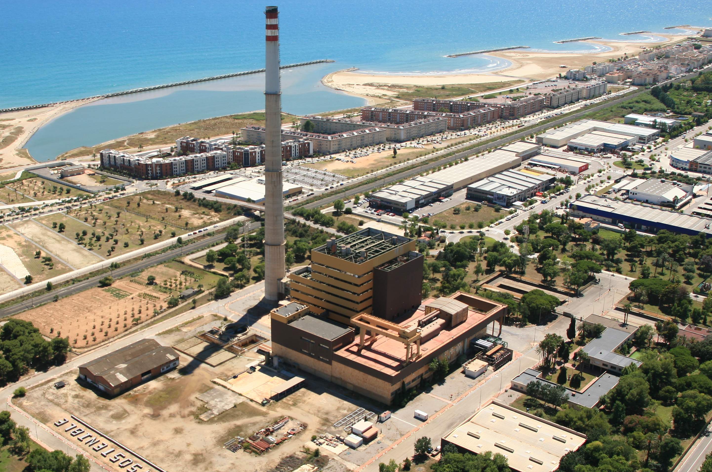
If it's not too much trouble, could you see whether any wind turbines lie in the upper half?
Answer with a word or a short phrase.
No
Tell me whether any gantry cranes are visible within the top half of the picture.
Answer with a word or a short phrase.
No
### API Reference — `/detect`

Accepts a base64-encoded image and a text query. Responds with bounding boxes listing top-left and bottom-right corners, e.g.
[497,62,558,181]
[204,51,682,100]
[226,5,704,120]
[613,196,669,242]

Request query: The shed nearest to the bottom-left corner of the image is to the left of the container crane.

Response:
[78,338,180,396]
